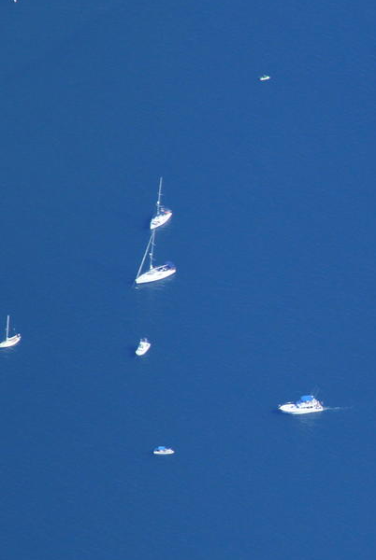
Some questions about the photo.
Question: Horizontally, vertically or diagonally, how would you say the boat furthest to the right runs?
horizontally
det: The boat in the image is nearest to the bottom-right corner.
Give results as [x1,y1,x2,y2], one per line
[278,391,326,414]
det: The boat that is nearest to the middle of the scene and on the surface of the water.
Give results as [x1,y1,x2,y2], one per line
[136,230,176,283]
